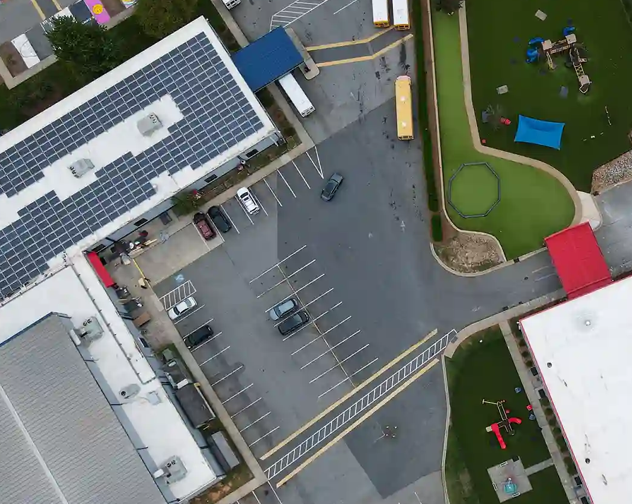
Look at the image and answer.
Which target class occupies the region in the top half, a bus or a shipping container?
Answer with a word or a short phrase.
bus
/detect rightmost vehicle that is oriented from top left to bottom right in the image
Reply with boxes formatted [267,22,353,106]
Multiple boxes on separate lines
[279,72,318,121]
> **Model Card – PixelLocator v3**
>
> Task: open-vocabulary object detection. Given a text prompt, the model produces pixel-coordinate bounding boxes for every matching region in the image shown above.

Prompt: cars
[193,212,216,241]
[279,309,309,335]
[322,171,343,201]
[168,294,200,319]
[270,297,299,319]
[184,324,216,348]
[208,205,230,233]
[237,186,260,215]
